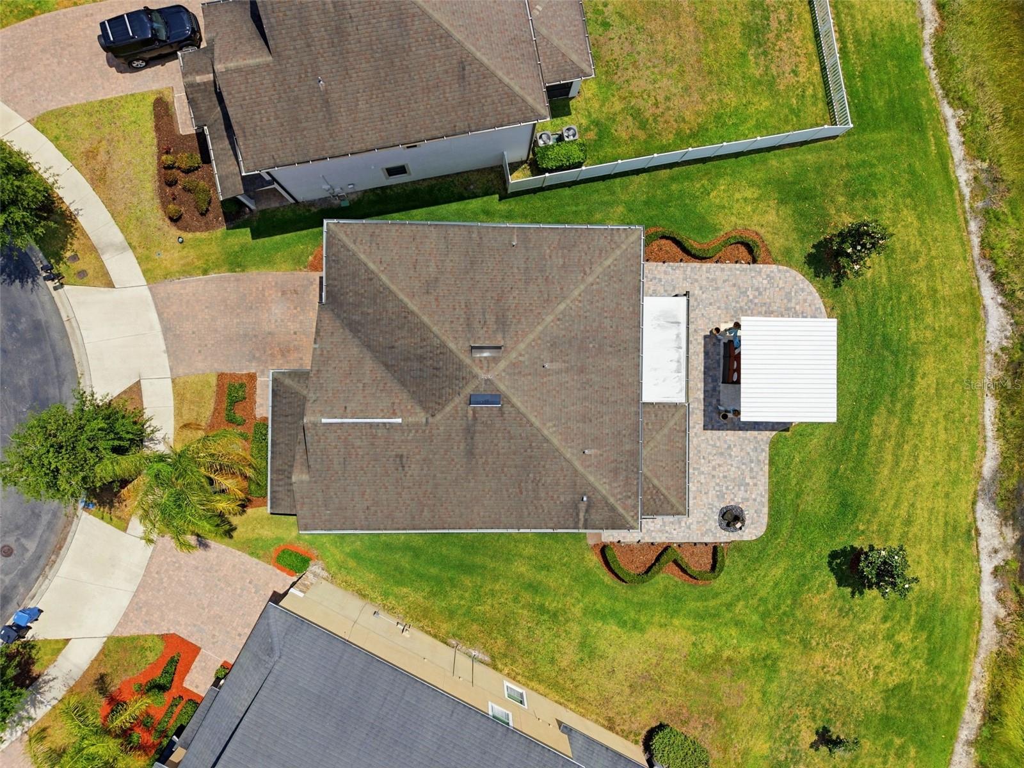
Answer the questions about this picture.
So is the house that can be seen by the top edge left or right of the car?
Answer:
on the right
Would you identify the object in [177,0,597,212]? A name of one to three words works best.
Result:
house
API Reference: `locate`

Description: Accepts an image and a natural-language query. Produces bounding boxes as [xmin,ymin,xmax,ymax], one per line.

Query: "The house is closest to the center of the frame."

[268,219,689,535]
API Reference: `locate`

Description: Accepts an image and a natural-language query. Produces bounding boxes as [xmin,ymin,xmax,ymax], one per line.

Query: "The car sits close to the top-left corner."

[95,0,203,69]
